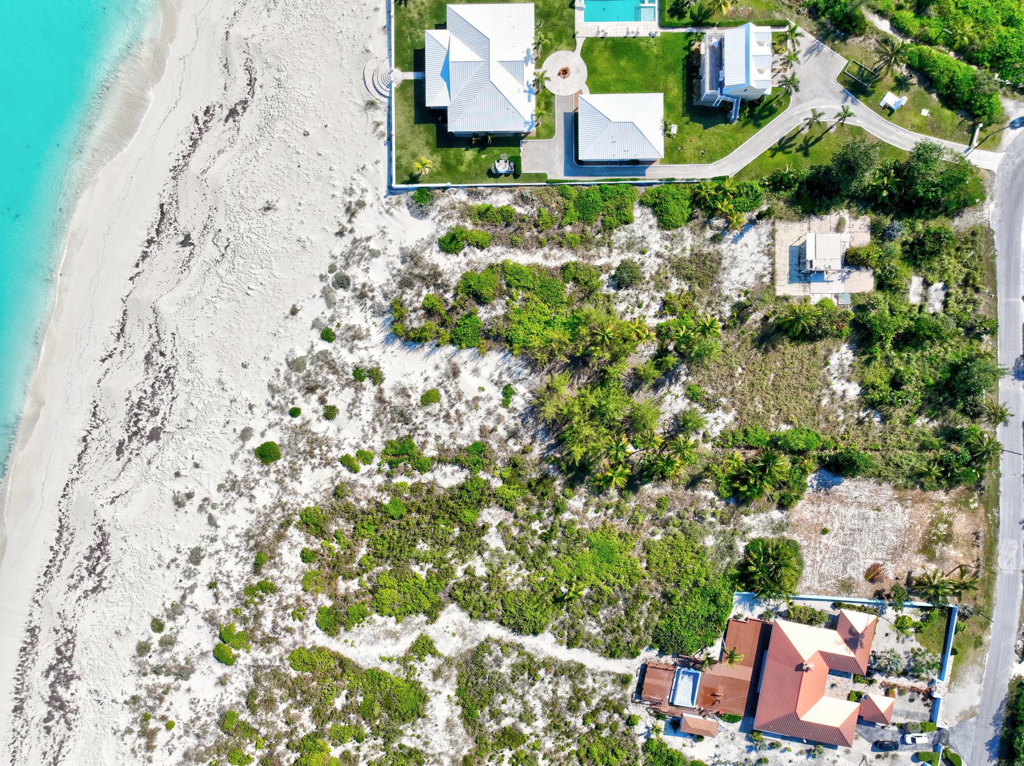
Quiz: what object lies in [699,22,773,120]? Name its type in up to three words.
house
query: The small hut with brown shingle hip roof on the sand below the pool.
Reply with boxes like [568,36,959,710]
[680,713,718,738]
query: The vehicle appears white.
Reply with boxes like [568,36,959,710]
[906,734,930,748]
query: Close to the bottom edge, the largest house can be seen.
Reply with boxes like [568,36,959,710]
[753,609,878,748]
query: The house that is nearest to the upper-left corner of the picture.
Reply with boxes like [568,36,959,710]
[425,2,535,133]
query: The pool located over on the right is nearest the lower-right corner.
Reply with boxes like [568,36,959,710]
[670,667,701,708]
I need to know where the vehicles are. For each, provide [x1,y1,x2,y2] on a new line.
[1012,115,1024,129]
[906,734,930,748]
[878,741,901,755]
